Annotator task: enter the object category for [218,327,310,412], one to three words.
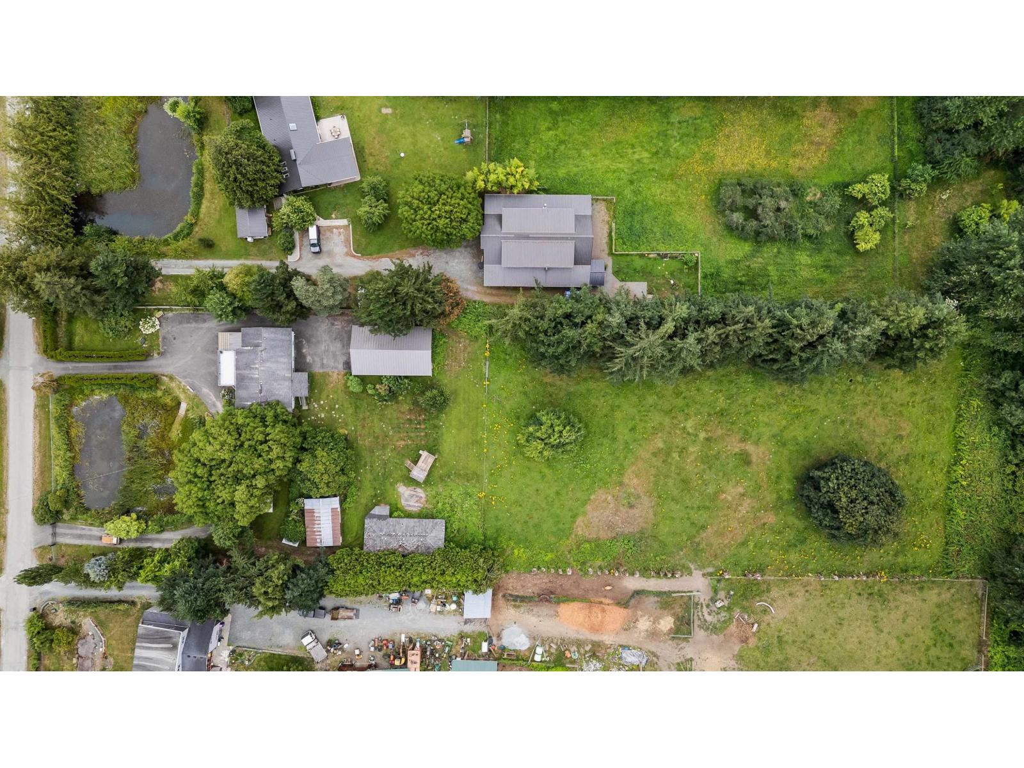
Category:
house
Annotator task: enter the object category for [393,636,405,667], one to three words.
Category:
vehicle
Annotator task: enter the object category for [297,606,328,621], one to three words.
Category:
vehicle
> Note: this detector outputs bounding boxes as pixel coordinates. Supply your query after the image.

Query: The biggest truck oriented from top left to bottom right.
[301,631,327,665]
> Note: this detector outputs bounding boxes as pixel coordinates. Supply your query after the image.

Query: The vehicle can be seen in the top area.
[306,225,320,255]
